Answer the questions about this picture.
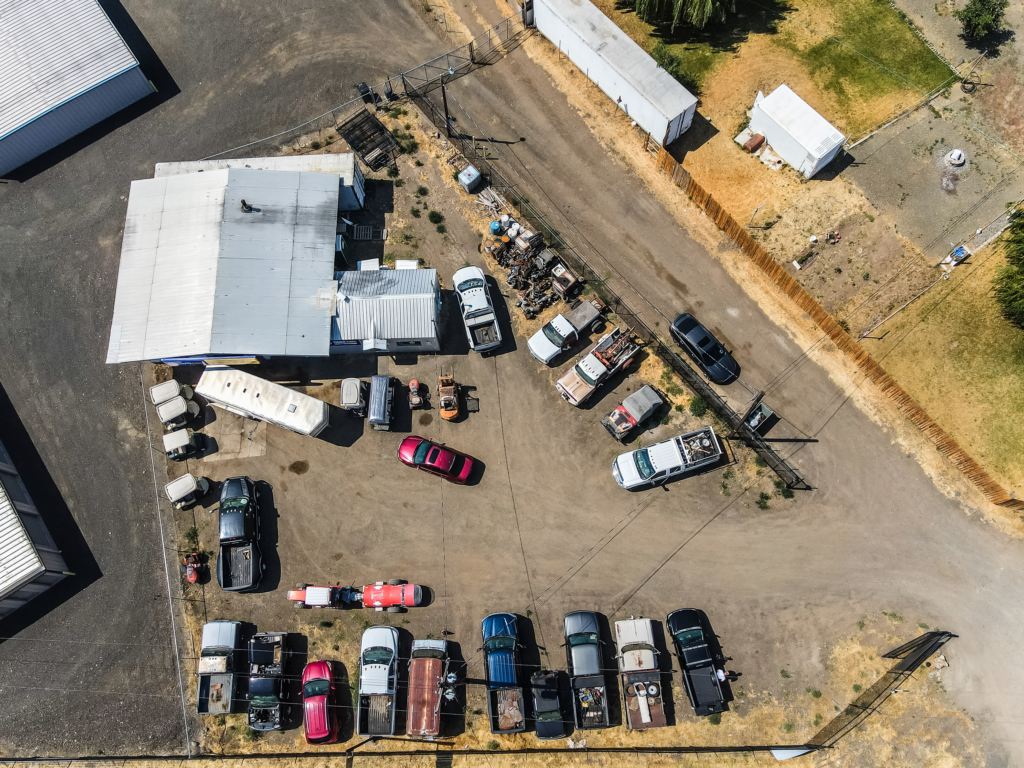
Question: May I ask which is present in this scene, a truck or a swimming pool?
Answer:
truck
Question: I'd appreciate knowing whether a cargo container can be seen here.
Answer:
Yes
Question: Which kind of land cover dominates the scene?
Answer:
paved ground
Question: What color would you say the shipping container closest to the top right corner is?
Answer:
white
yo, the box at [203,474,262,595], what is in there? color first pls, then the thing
black truck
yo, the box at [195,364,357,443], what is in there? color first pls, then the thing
white trailer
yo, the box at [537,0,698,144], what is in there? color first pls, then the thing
white trailer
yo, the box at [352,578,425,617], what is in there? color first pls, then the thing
red trailer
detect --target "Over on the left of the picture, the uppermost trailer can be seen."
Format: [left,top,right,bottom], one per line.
[330,100,398,169]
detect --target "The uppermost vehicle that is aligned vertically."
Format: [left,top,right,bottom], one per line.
[453,264,501,359]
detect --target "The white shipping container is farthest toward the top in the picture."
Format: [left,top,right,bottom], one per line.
[750,82,849,179]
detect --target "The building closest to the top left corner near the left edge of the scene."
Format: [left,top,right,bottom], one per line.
[0,0,154,175]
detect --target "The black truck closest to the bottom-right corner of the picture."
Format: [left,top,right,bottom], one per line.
[666,605,728,719]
